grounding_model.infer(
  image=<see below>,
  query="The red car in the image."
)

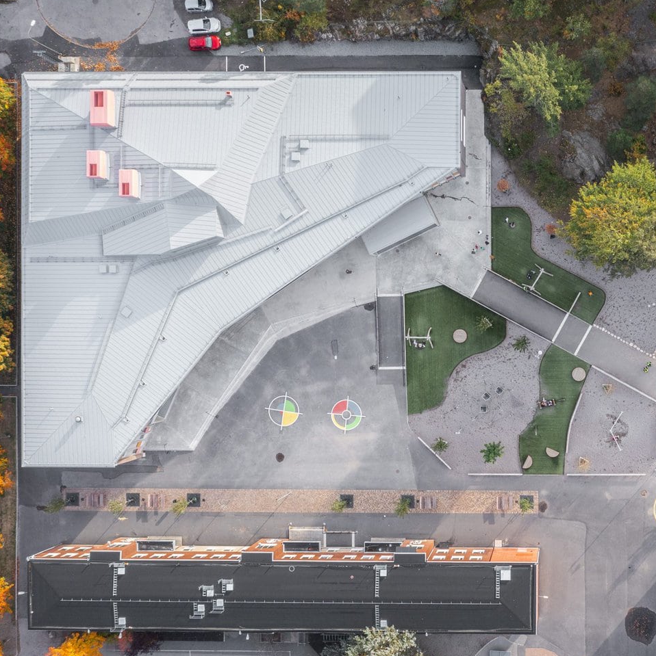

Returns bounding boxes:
[189,34,222,52]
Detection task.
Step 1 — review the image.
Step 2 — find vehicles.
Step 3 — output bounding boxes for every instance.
[189,34,222,52]
[188,17,221,35]
[184,0,215,13]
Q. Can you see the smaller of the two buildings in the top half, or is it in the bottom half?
bottom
